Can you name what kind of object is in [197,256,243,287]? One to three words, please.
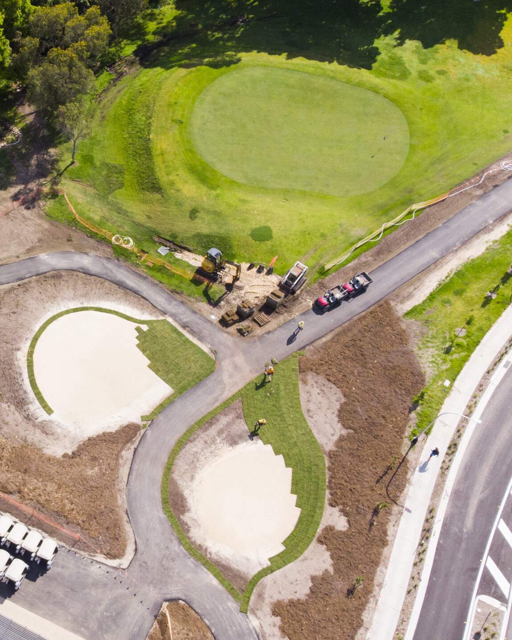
work vehicle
